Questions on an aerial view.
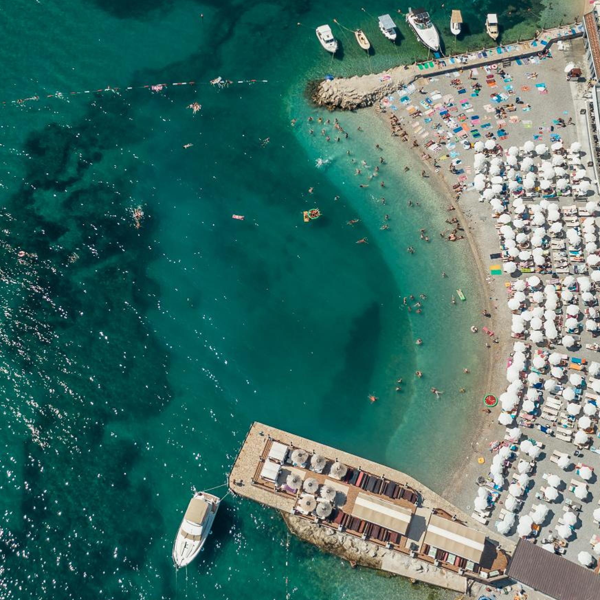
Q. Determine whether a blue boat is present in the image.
No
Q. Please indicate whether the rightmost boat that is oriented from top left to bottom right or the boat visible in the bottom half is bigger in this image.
the boat visible in the bottom half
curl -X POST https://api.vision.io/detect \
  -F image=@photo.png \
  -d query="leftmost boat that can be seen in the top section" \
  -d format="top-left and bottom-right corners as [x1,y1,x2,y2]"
[316,20,337,55]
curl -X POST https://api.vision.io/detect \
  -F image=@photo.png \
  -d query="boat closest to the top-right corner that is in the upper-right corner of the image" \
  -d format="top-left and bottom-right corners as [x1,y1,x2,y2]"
[485,8,500,40]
